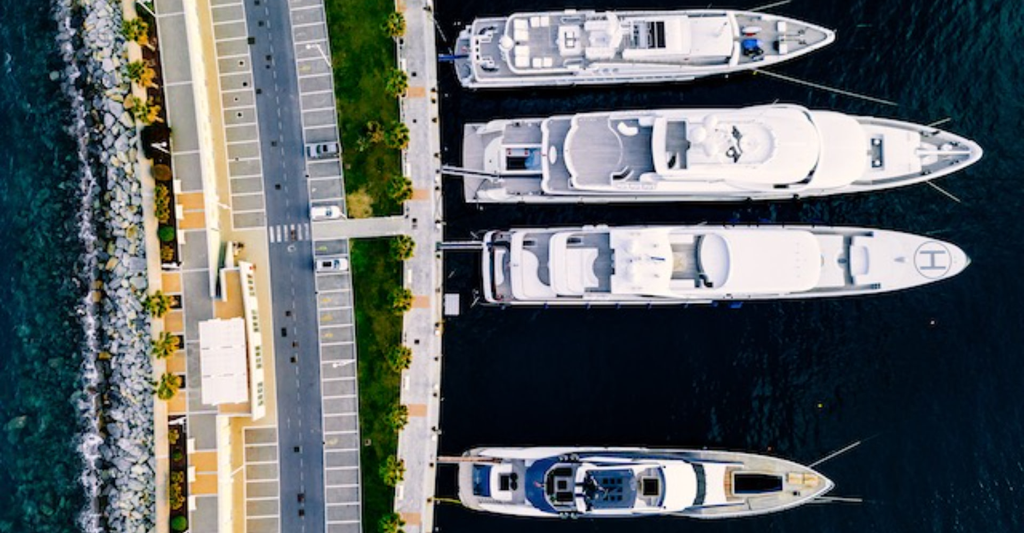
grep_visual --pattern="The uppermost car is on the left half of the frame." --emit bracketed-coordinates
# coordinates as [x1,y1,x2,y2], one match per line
[308,143,339,158]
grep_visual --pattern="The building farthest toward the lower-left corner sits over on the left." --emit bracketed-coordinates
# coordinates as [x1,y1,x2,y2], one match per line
[201,262,265,418]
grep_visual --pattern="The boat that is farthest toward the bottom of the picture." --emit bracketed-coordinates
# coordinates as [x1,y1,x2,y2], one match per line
[460,444,833,519]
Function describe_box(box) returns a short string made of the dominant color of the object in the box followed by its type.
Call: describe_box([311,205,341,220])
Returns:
white car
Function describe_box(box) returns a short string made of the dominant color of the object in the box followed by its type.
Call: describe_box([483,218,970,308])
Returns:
white boat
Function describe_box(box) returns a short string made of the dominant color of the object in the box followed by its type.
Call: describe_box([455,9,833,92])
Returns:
white boat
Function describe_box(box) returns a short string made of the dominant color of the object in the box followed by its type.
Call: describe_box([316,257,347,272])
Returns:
white car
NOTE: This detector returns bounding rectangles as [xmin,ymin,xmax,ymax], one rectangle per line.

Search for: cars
[308,143,339,158]
[311,205,341,220]
[316,257,347,272]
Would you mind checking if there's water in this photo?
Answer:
Yes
